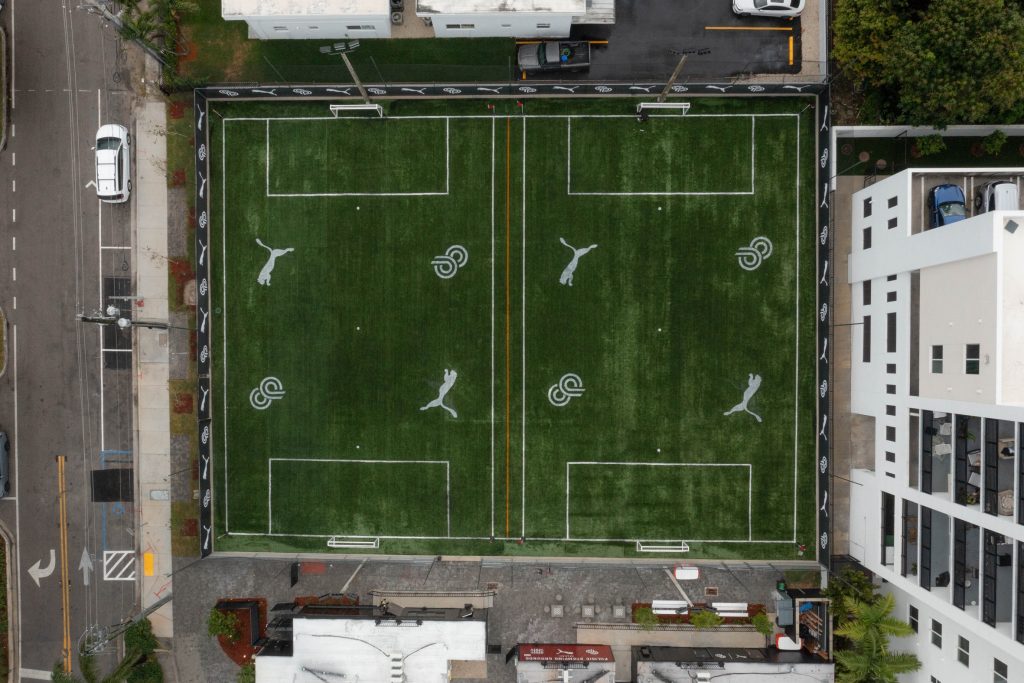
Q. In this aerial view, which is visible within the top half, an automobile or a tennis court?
automobile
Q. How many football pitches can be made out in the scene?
two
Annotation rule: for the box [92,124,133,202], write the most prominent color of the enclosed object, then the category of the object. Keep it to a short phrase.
white car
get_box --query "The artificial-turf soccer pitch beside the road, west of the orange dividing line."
[209,98,510,554]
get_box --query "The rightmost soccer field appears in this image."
[504,96,817,556]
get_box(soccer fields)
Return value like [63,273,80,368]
[209,98,510,554]
[504,96,817,556]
